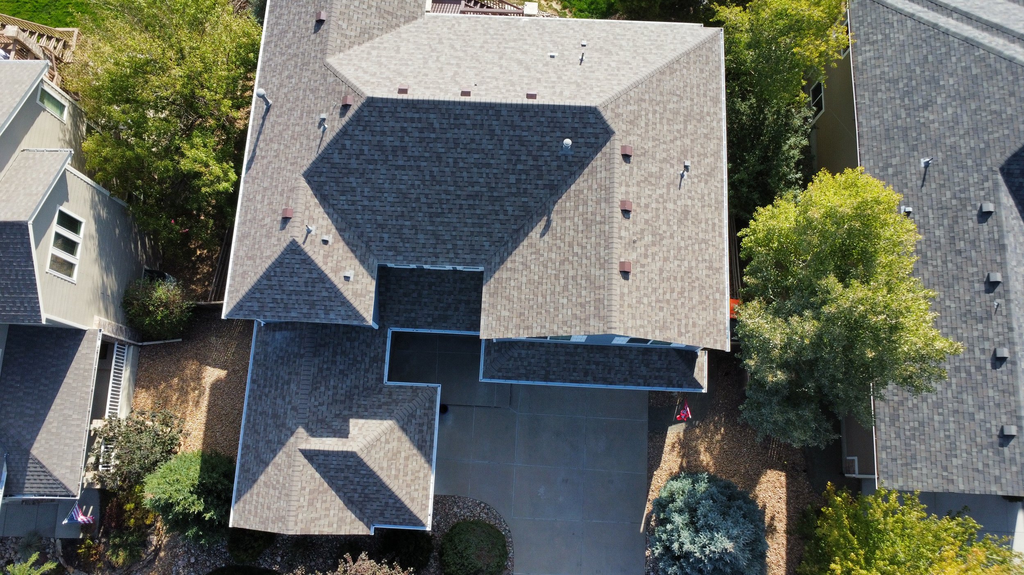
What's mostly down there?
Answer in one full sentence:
The largest share of the image is taken up by buildings.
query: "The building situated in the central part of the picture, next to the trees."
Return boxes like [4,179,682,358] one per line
[220,0,731,535]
